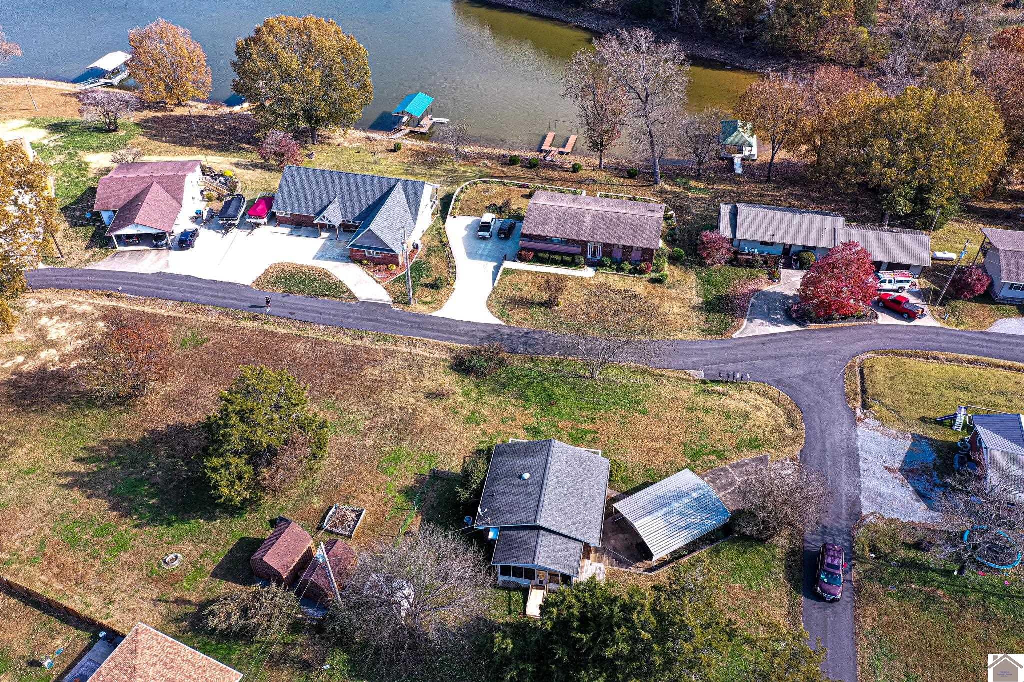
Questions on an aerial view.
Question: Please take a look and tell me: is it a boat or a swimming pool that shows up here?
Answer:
boat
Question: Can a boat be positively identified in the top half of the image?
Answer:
Yes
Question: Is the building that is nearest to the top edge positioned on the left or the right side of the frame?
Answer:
right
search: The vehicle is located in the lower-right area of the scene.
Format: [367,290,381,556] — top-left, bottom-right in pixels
[815,541,850,605]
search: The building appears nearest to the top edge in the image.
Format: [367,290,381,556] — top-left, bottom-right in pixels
[713,118,756,160]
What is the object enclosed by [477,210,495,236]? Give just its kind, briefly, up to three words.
vehicle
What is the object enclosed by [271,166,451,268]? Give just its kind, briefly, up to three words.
house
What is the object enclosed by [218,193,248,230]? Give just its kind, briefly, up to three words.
boat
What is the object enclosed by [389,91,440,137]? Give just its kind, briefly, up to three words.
pier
